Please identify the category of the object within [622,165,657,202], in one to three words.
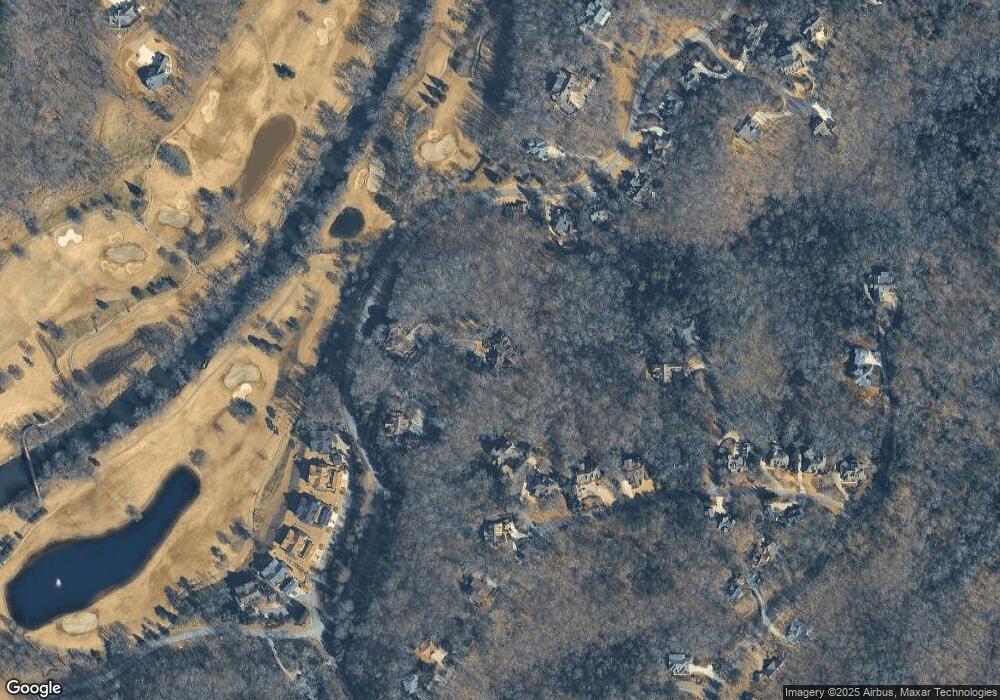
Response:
house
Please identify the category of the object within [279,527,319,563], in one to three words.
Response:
house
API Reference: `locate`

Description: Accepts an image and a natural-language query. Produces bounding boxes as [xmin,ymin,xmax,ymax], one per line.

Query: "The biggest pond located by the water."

[6,466,199,629]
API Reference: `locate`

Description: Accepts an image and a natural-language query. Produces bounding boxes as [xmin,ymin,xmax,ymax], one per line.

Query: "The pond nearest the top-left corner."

[240,114,295,203]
